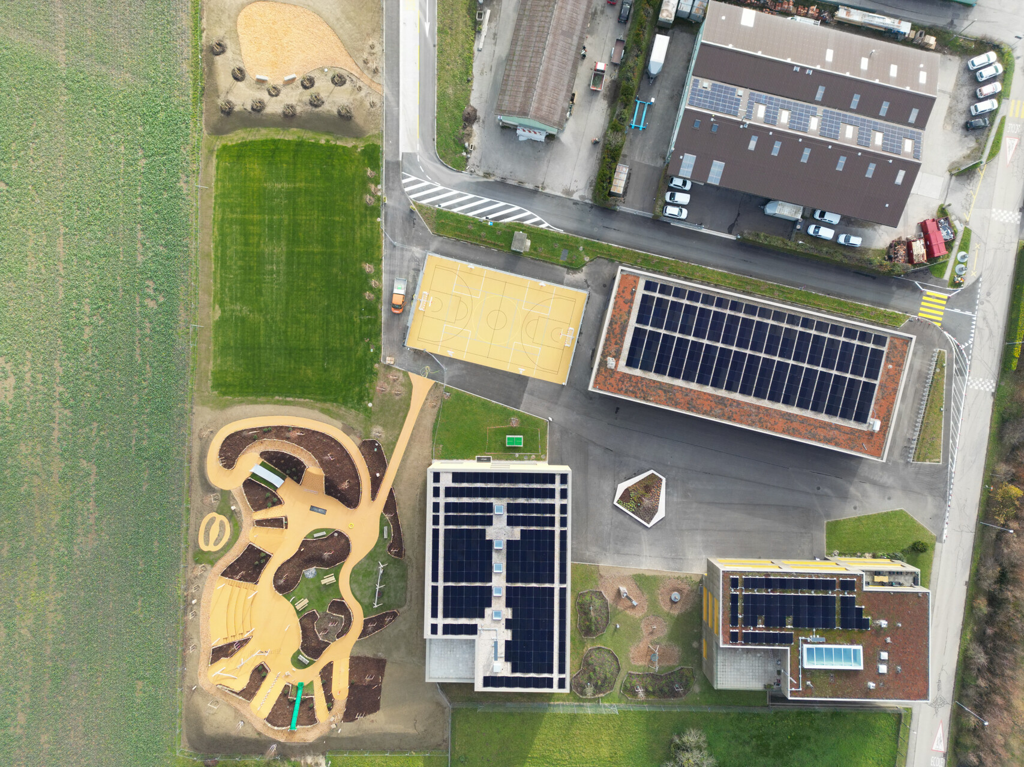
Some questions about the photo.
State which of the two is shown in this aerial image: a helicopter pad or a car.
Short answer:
car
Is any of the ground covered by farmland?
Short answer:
Yes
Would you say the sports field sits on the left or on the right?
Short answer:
left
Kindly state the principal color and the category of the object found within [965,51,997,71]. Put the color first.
white car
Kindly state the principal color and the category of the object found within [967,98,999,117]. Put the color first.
white car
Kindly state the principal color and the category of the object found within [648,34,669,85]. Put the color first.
white trailer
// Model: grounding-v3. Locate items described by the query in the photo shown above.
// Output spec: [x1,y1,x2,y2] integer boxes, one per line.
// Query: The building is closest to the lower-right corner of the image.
[698,556,931,702]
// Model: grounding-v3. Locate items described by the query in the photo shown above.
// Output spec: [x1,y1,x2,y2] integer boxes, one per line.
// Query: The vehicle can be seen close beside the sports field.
[389,277,407,314]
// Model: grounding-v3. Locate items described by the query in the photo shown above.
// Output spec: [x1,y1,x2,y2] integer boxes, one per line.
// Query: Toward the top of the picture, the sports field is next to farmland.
[211,139,383,415]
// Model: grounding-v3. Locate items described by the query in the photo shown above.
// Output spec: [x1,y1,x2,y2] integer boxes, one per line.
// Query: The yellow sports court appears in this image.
[404,251,590,385]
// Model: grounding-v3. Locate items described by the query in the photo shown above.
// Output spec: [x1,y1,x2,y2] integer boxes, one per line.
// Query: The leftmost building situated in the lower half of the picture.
[424,462,571,693]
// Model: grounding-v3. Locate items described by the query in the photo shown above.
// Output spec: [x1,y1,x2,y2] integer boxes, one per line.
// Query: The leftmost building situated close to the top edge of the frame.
[495,0,592,135]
